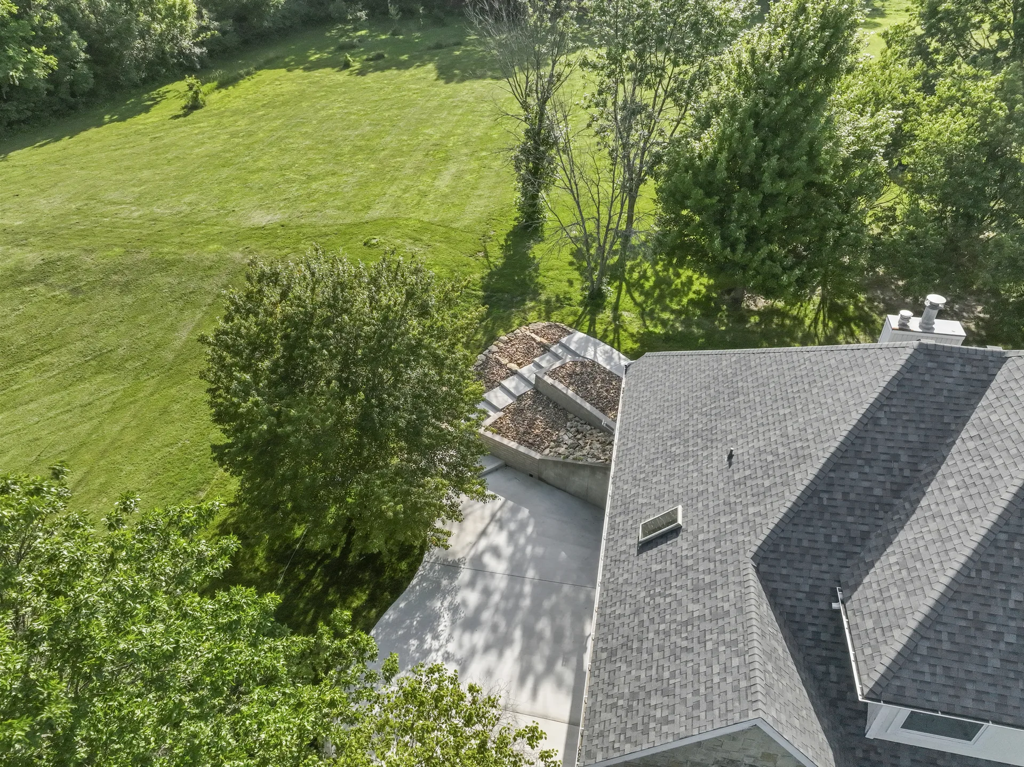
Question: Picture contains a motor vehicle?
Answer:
No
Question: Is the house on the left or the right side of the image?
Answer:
right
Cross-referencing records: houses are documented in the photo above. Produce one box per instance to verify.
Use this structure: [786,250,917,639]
[572,294,1024,767]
